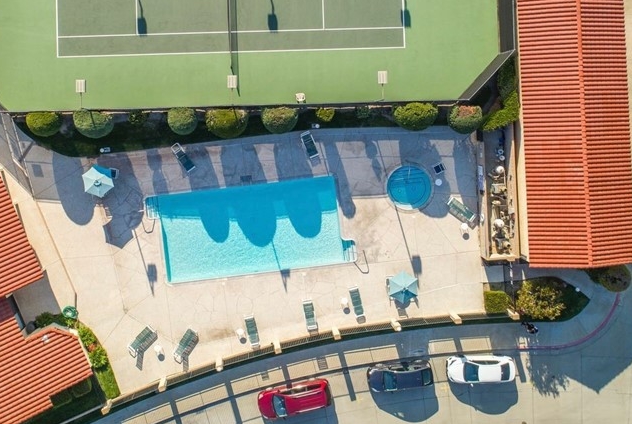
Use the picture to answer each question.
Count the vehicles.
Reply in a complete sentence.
Altogether the scene contains 3 vehicles.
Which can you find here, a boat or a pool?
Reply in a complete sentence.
The image shows a pool.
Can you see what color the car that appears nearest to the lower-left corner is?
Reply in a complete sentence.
The car that appears nearest to the lower-left corner looks red in the image.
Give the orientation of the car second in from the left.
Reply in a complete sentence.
In this picture, the car second in from the left is oriented horizontally.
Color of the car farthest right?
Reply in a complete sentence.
From above, the car farthest right appears white.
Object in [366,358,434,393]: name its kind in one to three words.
car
